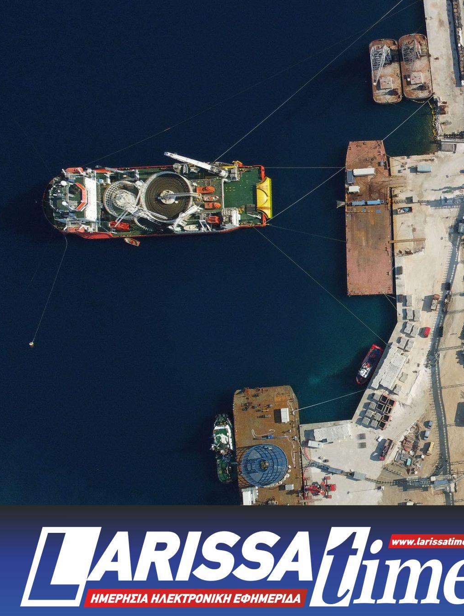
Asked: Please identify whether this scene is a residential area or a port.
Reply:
port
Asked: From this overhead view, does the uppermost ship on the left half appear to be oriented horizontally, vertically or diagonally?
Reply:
horizontally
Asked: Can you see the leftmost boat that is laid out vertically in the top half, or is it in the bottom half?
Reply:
bottom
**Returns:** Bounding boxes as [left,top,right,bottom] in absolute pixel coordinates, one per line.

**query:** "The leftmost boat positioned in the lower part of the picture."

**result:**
[213,415,238,482]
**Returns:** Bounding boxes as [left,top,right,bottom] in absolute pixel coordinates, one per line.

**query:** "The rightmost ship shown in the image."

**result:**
[399,34,432,99]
